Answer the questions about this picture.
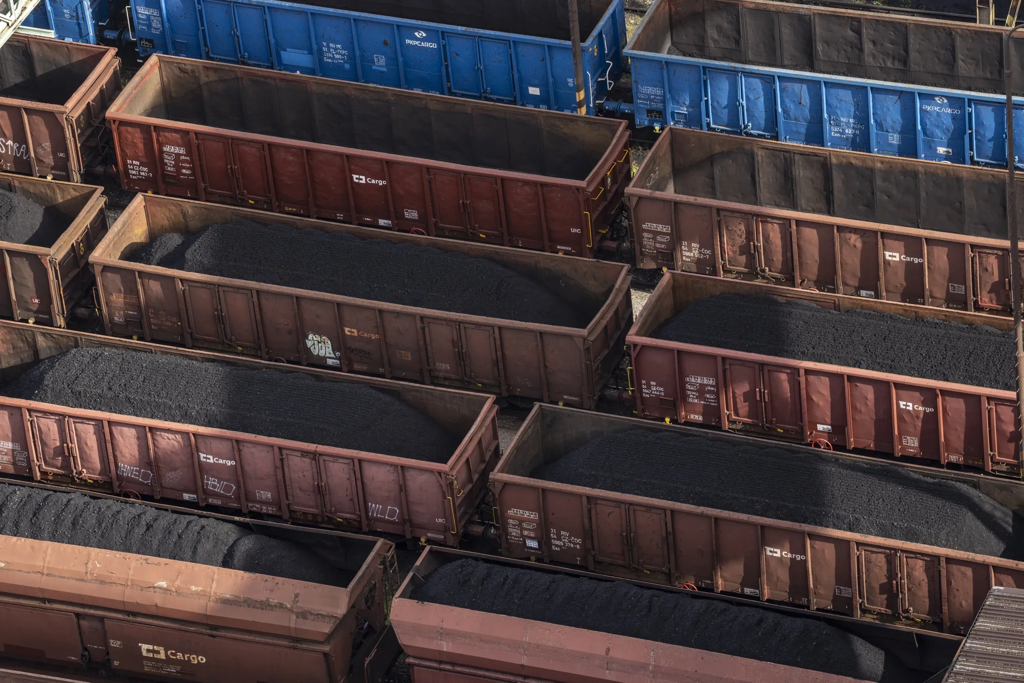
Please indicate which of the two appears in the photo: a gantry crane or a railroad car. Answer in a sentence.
Visible in the photo is a railroad car.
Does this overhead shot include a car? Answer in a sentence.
No, there's no car here.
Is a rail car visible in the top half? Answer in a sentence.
Yes, you'll find a rail car in the top half.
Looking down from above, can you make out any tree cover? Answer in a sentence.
No, the picture contains no tree cover.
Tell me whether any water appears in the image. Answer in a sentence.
No, water can't be seen anywhere here.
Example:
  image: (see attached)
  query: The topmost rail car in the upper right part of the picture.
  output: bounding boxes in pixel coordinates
[614,0,1024,173]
